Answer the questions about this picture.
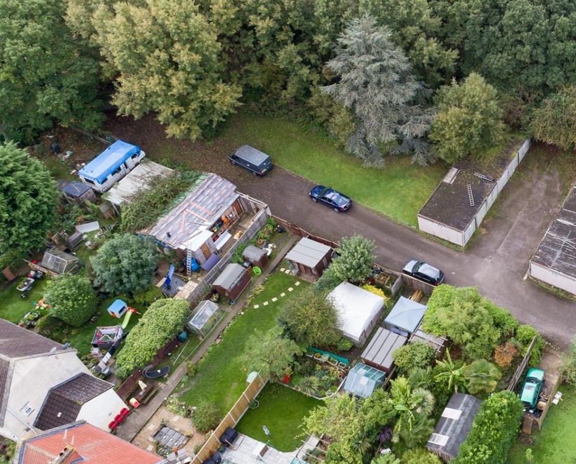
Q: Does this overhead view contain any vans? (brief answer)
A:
Yes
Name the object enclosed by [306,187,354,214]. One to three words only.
car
